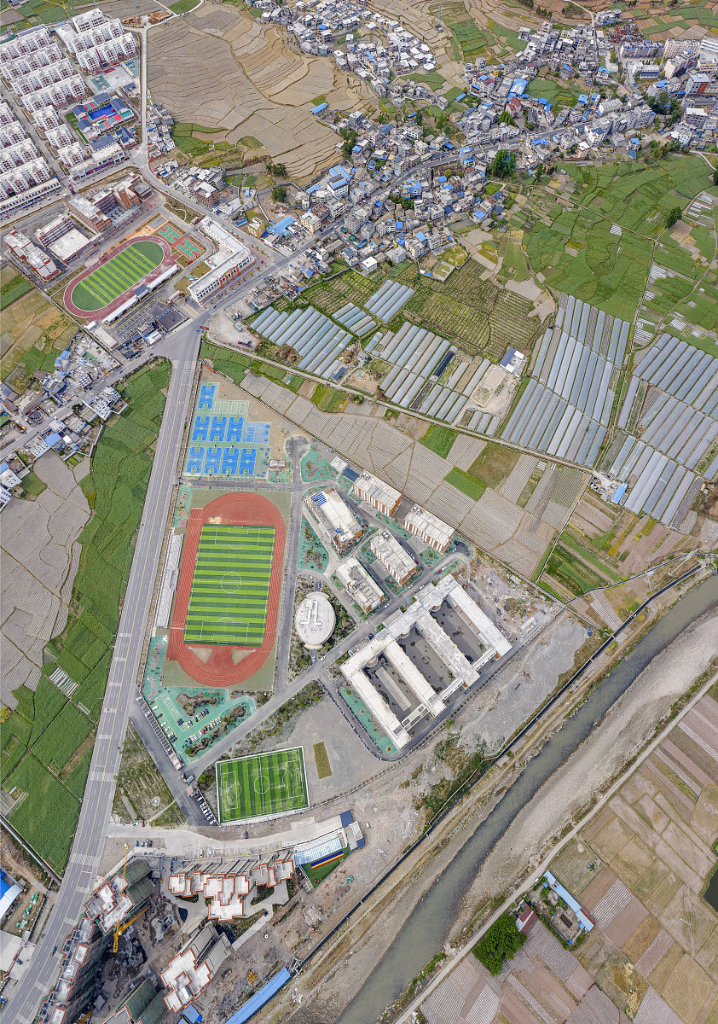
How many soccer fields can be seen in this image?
three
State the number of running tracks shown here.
2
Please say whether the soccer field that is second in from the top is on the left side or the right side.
left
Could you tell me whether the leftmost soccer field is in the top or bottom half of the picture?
top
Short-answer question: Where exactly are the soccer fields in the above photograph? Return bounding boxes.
[72,240,163,310]
[213,744,312,827]
[182,523,276,647]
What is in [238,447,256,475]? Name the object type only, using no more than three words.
basketball court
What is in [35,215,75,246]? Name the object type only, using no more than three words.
building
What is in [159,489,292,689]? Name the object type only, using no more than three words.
running track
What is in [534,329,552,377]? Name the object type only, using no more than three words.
greenhouse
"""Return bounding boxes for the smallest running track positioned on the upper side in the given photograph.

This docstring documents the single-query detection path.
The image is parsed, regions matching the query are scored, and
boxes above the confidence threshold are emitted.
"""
[63,234,178,319]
